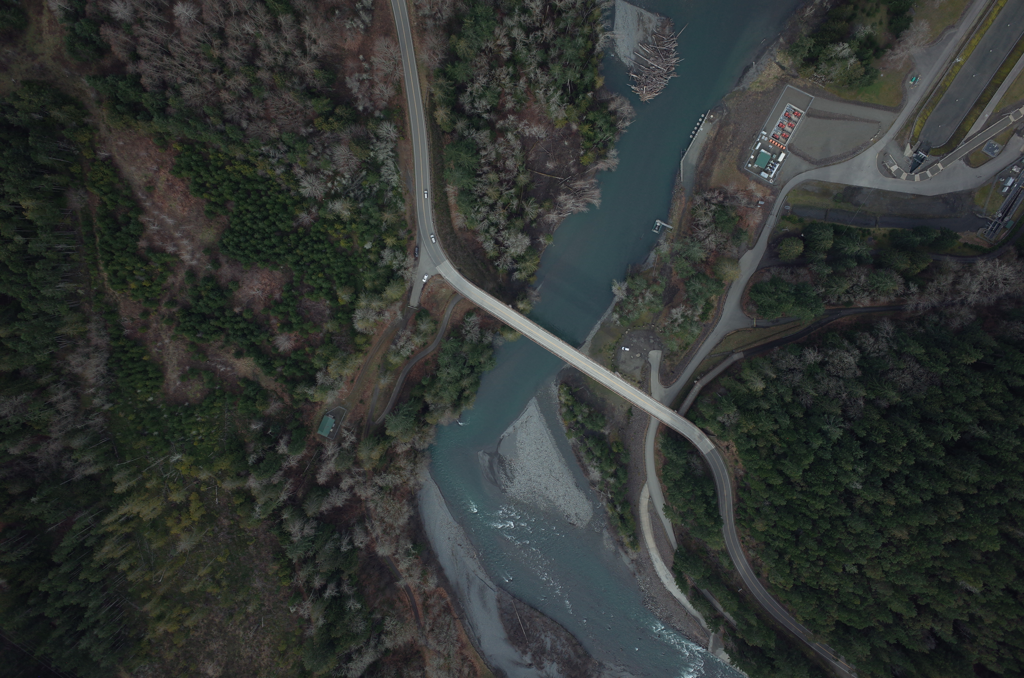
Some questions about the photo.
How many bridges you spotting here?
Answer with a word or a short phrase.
1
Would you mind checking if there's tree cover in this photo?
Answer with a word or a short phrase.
Yes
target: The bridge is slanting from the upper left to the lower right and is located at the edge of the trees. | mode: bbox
[435,257,716,455]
